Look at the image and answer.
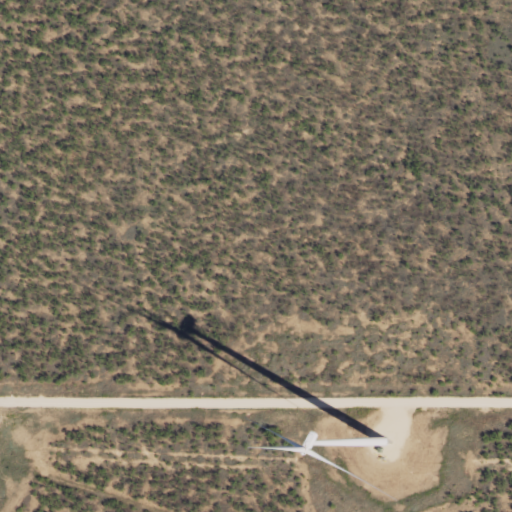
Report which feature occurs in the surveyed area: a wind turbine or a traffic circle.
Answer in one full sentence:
There is a wind turbine in the scene.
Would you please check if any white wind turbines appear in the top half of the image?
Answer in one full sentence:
No, looking in the top half of the image, there is no white wind turbine.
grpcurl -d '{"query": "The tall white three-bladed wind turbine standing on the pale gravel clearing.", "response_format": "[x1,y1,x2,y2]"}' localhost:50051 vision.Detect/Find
[248,422,394,500]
